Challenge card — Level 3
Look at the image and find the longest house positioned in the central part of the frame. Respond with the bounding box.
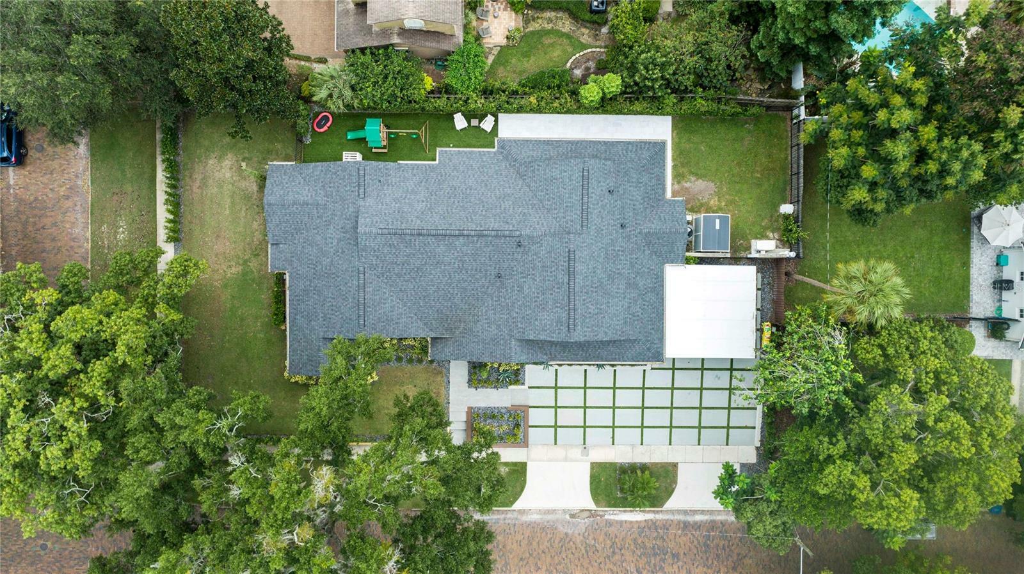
[263,138,687,376]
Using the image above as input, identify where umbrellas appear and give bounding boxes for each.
[973,204,1023,249]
